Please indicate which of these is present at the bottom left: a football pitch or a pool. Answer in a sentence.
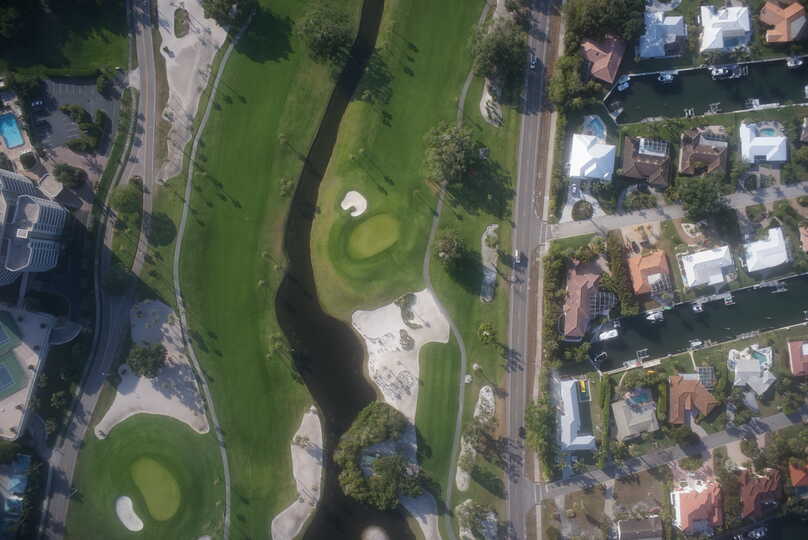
What appears at the bottom left is a pool.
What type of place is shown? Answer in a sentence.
The area seen from above is a golf course.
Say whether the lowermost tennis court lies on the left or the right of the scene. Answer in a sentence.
It is on the left.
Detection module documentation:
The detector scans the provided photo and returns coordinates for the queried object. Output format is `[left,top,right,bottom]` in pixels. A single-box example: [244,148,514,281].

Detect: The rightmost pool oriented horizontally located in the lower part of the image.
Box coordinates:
[728,345,773,368]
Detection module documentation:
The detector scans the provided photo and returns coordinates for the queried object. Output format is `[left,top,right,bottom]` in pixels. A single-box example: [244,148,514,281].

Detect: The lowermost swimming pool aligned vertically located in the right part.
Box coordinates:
[577,378,593,436]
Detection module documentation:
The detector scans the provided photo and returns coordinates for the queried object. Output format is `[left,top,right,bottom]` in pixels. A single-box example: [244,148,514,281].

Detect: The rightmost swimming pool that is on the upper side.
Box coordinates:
[754,120,785,137]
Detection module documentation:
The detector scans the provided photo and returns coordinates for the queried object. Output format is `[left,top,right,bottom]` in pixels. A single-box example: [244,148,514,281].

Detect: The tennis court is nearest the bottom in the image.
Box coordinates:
[0,354,28,397]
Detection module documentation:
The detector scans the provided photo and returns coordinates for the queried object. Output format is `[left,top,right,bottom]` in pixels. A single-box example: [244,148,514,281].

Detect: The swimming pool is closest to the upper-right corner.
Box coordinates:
[721,30,752,50]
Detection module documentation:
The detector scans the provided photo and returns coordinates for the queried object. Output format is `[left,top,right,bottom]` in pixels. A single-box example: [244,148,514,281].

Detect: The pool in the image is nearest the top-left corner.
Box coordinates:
[0,98,35,168]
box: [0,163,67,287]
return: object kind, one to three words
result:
building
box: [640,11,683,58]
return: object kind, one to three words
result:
house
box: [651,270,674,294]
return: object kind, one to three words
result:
swimming pool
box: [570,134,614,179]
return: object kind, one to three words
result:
house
